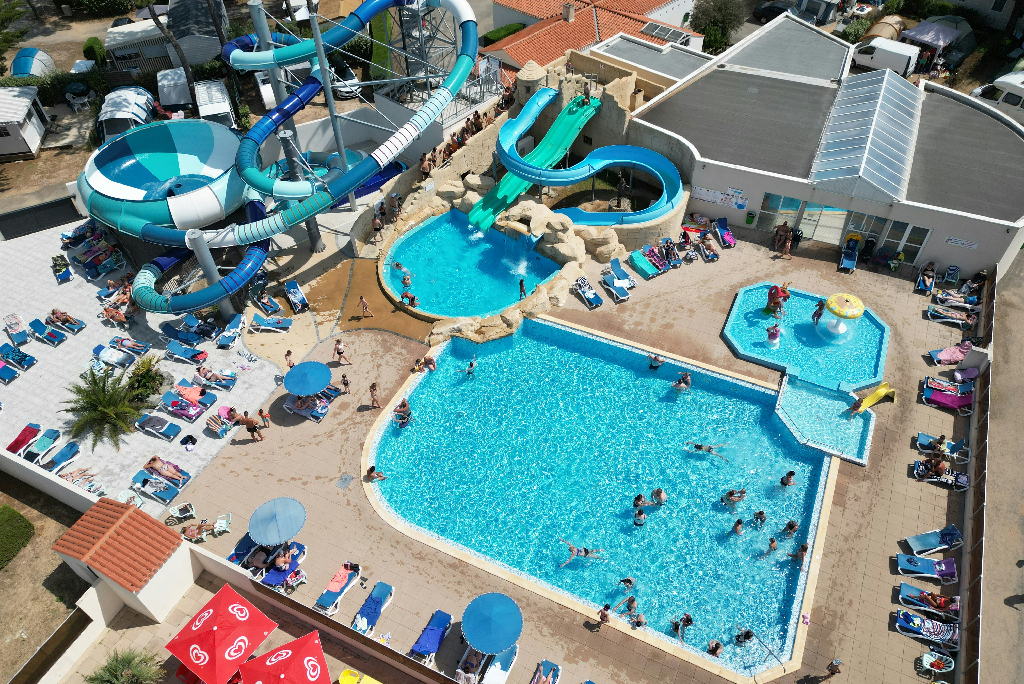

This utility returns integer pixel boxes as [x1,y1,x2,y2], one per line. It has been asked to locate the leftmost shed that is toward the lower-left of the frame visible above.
[50,499,194,624]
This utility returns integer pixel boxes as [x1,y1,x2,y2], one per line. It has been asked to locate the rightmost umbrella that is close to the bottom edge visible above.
[458,588,525,656]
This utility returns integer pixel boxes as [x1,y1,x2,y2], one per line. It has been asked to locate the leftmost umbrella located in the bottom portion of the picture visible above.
[163,584,277,684]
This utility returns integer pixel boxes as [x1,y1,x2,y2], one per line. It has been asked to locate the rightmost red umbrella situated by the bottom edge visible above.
[240,630,331,684]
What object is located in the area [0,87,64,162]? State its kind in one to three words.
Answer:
building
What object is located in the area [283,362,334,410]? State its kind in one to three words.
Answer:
umbrella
